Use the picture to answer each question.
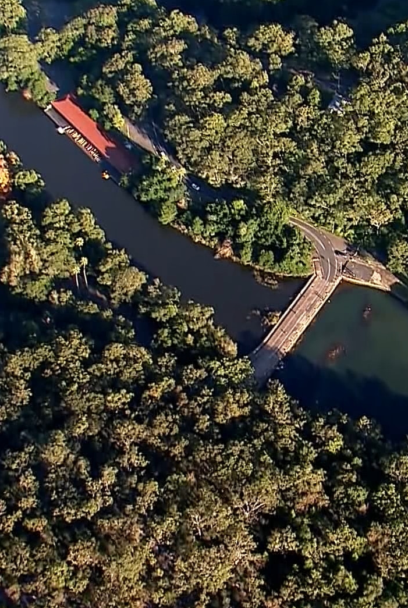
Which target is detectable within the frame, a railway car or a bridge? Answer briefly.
bridge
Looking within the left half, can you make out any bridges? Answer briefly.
No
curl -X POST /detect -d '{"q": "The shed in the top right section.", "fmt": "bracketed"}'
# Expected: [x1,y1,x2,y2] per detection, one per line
[323,96,349,118]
